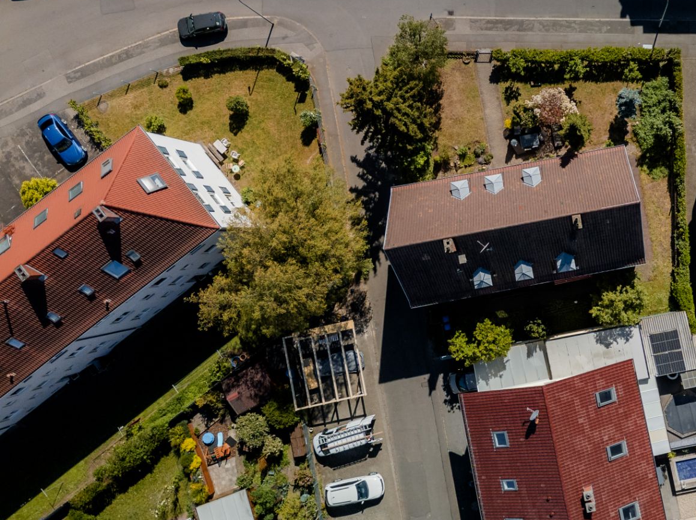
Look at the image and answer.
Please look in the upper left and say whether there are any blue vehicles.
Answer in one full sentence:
Yes, a blue vehicle appears in the upper left.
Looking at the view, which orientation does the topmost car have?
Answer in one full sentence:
From this overhead view, the topmost car appears to run from side to side.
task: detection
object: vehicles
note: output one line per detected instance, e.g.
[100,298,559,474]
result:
[312,421,381,459]
[33,115,83,168]
[322,475,383,508]
[173,12,225,38]
[449,374,478,397]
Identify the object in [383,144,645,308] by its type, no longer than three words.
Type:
house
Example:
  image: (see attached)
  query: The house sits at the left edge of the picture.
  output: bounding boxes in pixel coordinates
[0,125,259,412]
